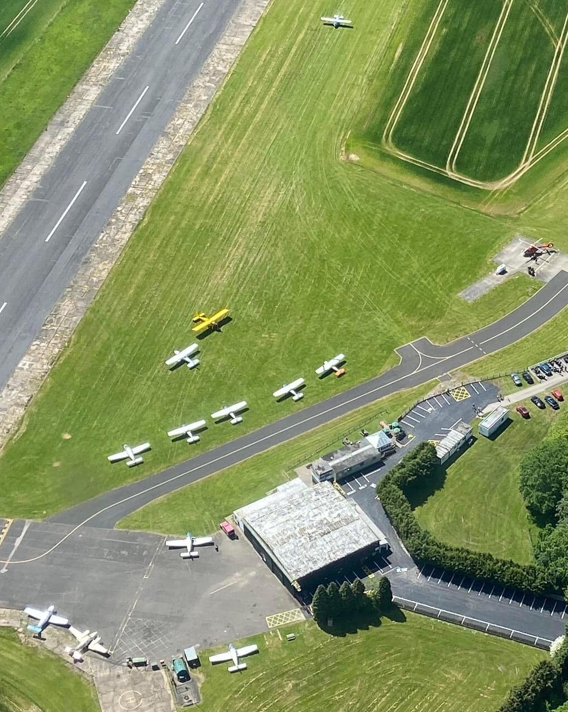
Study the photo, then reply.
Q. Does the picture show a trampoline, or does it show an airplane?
airplane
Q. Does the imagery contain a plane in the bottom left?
Yes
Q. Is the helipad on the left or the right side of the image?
right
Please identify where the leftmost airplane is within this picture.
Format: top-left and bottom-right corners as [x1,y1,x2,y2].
[21,603,74,632]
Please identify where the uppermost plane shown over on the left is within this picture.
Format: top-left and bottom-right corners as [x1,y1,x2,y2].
[192,311,227,333]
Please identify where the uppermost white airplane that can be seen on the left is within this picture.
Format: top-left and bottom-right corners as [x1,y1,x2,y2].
[165,344,200,367]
